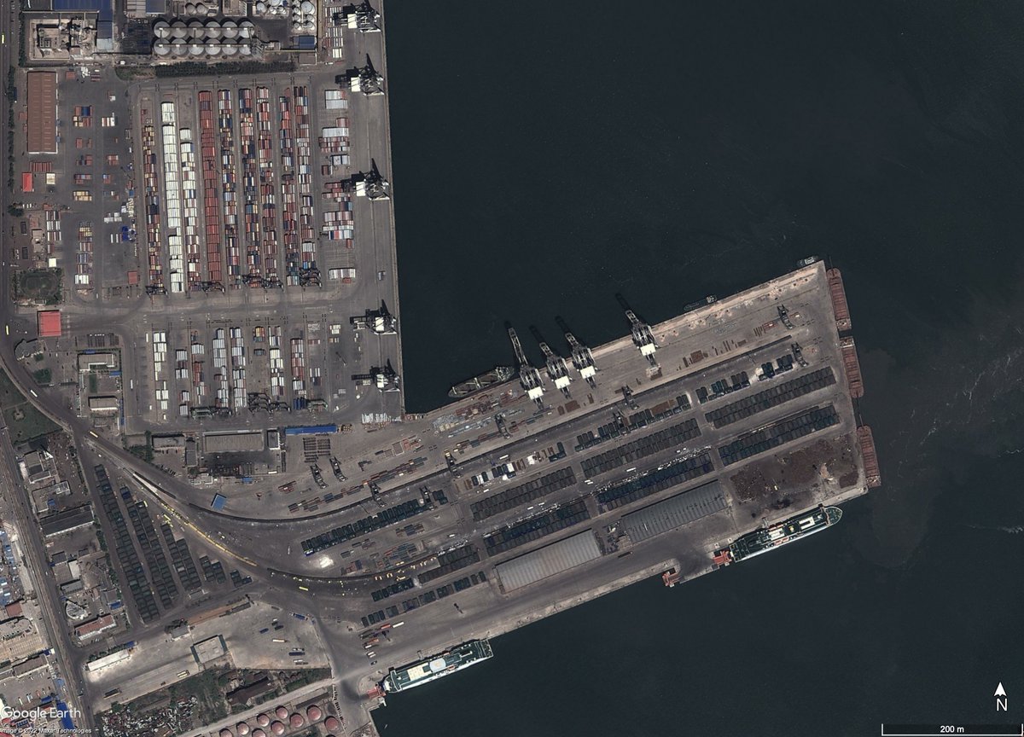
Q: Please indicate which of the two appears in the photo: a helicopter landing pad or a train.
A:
train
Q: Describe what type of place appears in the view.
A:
port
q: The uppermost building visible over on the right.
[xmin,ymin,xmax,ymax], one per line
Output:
[622,481,728,545]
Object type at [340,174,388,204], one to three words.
container crane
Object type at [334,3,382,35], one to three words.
container crane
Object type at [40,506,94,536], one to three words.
shed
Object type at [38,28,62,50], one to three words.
building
